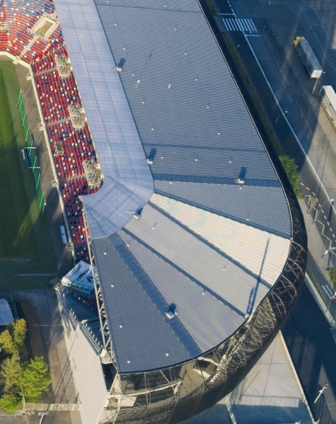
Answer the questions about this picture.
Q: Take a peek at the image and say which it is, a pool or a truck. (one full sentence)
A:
I can see a truck in this picture.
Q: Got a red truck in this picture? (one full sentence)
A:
No, there appears to be no red truck in this shot.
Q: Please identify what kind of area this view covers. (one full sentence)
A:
The area seen from above is a sports ground.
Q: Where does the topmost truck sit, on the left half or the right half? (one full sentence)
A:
It is on the right.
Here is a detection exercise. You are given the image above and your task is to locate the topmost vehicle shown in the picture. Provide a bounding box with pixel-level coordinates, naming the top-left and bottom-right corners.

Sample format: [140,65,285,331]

[287,39,327,85]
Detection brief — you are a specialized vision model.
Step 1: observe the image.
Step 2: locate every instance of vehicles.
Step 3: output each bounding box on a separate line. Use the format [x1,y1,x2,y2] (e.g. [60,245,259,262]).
[287,39,327,85]
[318,86,336,133]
